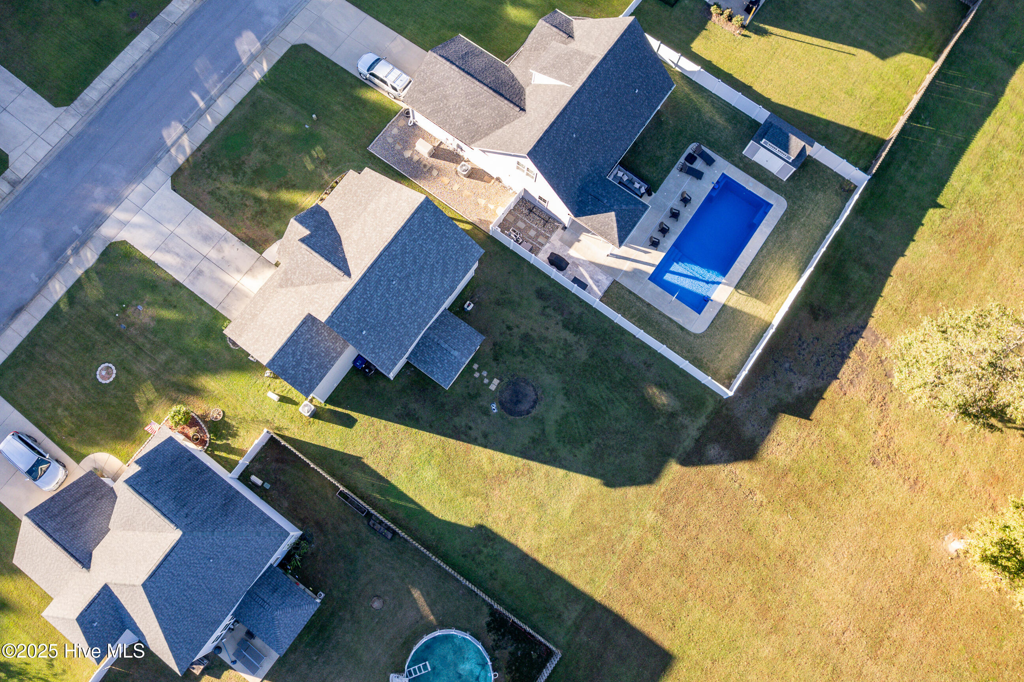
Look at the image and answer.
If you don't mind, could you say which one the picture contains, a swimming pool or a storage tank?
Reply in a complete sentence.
This aerial view contains a swimming pool.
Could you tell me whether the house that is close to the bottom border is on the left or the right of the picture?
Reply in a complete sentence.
The house that is close to the bottom border sits on the left side.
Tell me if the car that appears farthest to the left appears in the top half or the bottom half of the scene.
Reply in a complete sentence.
It is in the bottom half that the car that appears farthest to the left appears.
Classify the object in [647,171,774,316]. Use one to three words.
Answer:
swimming pool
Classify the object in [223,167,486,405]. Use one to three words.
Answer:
house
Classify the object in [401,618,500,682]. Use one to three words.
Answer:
swimming pool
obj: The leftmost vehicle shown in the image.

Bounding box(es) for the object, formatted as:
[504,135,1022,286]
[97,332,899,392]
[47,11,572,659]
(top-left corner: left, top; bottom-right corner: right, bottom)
[0,432,70,494]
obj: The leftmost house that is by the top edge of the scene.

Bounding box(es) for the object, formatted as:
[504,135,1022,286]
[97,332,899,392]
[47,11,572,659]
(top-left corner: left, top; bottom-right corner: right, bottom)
[400,8,677,256]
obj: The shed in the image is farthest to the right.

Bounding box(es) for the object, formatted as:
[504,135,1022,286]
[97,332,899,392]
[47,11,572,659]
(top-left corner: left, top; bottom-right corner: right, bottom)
[743,113,815,180]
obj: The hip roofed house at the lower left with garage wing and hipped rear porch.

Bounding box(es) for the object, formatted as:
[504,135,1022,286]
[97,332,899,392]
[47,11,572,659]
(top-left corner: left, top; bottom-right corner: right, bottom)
[12,425,321,682]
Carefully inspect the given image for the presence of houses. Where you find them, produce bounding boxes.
[12,425,321,682]
[400,8,677,256]
[223,167,486,405]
